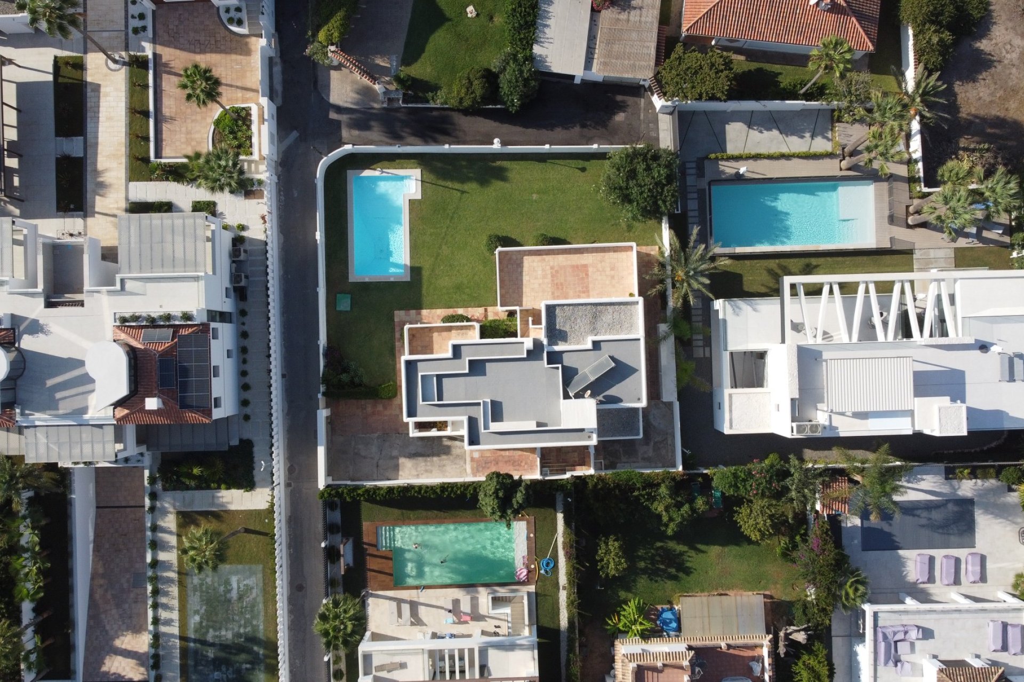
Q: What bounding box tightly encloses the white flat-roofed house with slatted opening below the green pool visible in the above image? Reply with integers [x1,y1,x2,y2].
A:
[358,590,540,682]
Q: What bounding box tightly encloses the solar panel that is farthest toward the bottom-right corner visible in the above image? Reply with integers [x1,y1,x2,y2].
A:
[566,355,615,399]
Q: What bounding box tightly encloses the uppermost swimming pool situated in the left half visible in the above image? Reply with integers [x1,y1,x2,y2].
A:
[347,169,422,281]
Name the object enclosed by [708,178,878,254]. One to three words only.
swimming pool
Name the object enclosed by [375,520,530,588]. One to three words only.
swimming pool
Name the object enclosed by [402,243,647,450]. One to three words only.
house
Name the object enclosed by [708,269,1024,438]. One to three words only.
house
